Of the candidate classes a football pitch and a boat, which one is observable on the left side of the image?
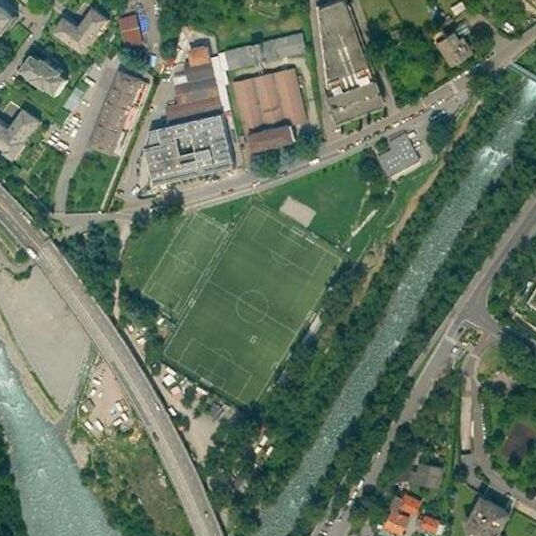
football pitch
